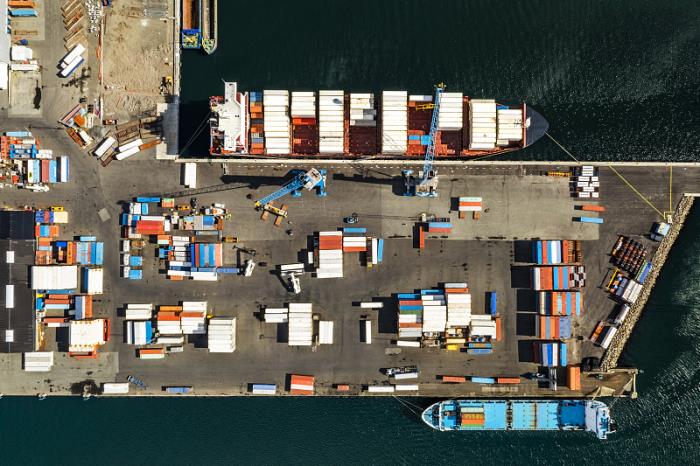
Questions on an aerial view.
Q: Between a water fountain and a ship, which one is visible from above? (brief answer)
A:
ship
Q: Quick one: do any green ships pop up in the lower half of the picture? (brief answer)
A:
No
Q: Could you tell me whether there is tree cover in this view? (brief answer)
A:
No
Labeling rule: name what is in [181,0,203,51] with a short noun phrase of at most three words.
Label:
ship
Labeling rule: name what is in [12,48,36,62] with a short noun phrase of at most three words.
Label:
building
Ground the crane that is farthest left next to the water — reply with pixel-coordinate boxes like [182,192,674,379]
[252,164,328,212]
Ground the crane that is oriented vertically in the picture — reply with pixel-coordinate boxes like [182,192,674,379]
[403,81,446,201]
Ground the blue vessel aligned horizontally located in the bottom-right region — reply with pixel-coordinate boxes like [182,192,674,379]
[421,398,619,439]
